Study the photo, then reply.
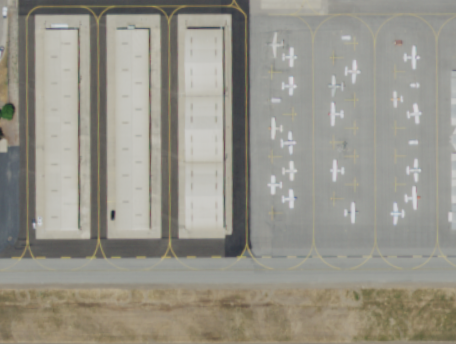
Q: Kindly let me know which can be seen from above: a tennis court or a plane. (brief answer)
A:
plane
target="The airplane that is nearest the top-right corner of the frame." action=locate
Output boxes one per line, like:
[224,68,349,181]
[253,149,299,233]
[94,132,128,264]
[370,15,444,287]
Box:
[404,44,420,69]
